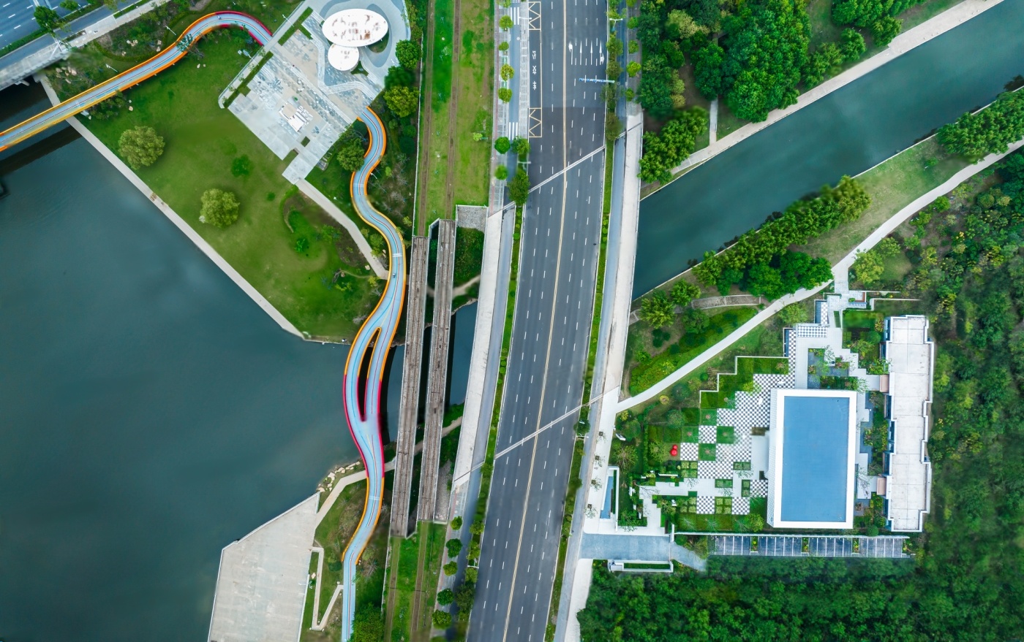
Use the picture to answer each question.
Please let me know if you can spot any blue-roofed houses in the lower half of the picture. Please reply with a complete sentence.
Yes, I can see a blue-roofed house in the lower half of the picture.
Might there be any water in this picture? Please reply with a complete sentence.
Yes, there's water in this view.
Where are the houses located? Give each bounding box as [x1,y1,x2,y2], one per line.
[766,387,856,529]
[878,315,933,532]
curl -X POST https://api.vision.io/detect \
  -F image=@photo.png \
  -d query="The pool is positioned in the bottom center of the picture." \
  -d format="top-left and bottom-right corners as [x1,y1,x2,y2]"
[600,475,614,520]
